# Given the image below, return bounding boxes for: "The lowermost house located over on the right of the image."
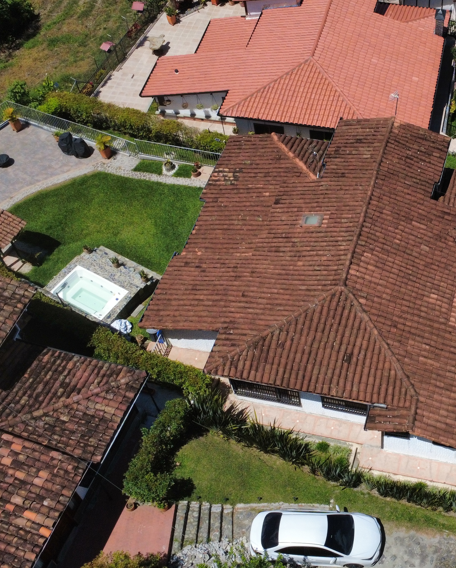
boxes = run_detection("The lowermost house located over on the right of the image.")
[138,116,456,462]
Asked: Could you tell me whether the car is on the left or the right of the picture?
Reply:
right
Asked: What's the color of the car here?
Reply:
white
